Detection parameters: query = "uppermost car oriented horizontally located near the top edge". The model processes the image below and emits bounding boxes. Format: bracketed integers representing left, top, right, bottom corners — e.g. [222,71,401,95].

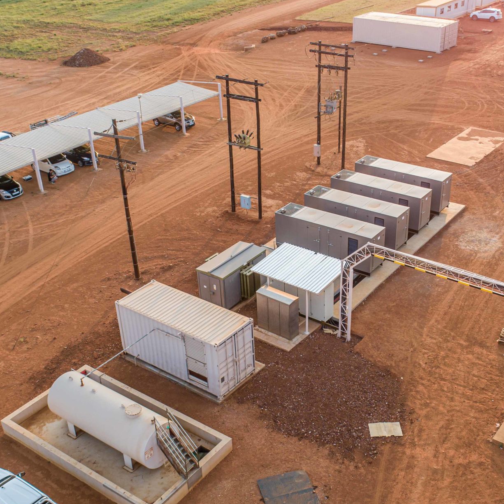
[470,7,503,22]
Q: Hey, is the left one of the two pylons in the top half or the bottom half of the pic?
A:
top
